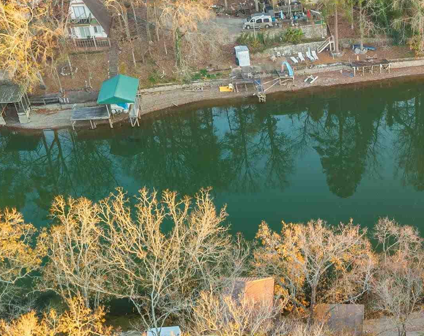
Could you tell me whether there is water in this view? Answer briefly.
Yes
